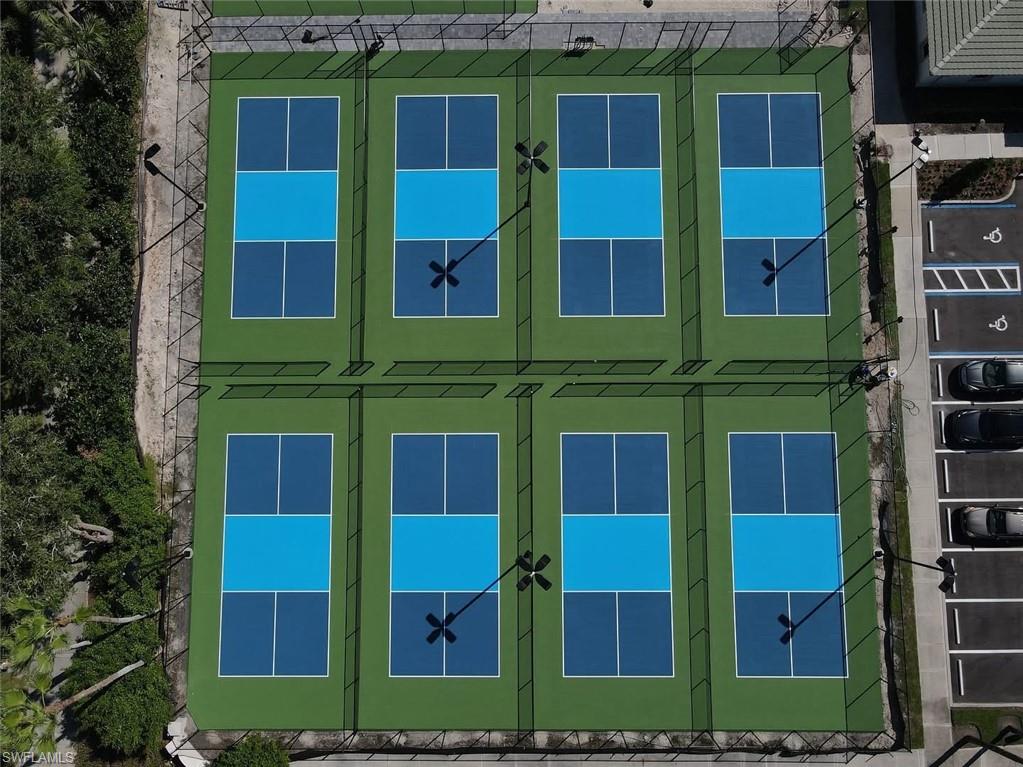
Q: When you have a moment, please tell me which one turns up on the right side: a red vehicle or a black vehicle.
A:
black vehicle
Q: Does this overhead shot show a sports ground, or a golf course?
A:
sports ground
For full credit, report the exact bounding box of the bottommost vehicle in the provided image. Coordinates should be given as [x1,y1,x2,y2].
[958,503,1023,545]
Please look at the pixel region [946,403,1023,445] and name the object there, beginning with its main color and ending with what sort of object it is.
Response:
black car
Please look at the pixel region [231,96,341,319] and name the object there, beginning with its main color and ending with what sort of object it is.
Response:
blue sports court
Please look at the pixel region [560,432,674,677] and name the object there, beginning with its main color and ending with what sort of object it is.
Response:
blue sports court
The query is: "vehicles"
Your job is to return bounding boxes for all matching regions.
[953,354,1023,394]
[958,503,1023,545]
[946,403,1023,445]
